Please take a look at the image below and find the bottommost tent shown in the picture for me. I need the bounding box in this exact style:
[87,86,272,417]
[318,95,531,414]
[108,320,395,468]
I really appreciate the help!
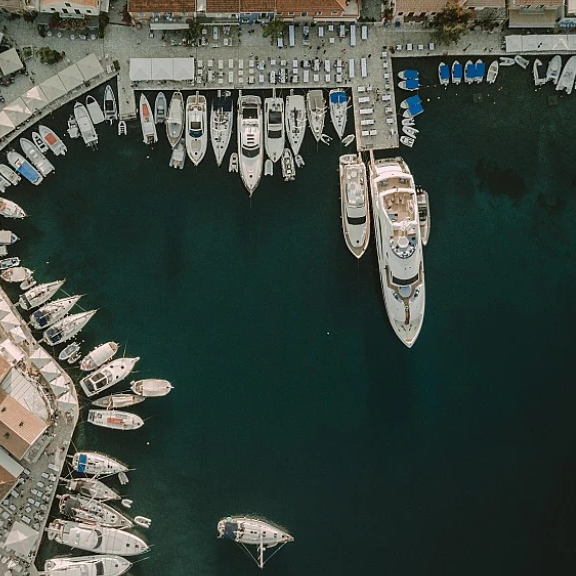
[6,520,42,559]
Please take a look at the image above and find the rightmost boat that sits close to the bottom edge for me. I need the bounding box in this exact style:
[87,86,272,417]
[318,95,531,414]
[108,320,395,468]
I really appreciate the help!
[220,519,296,570]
